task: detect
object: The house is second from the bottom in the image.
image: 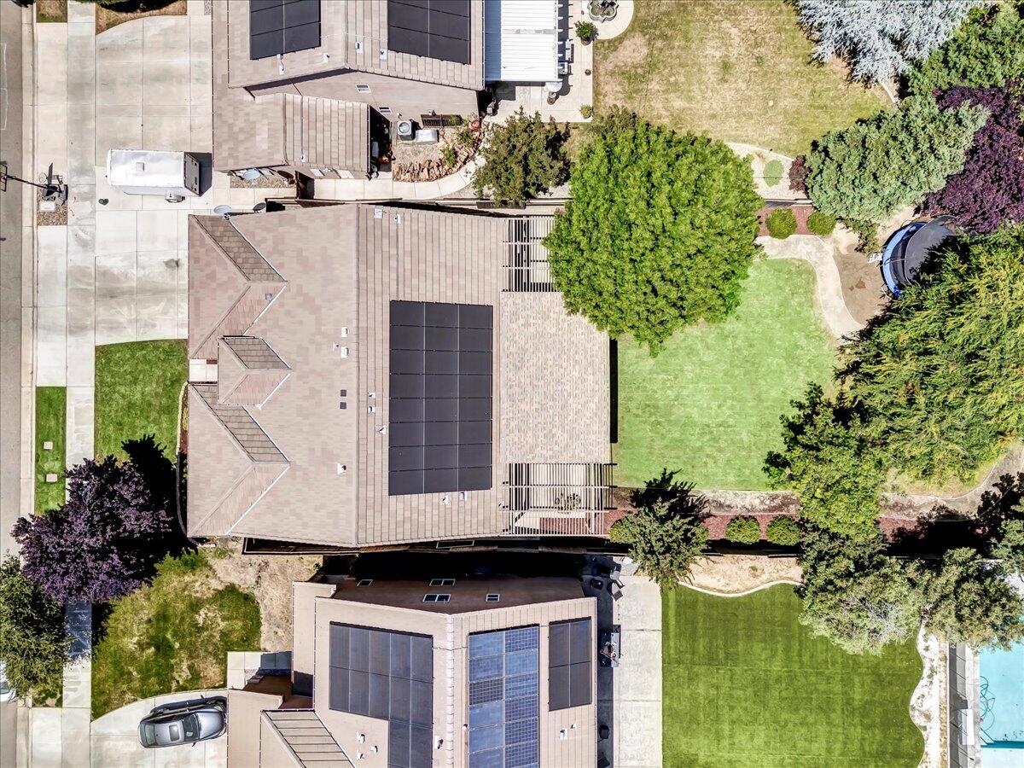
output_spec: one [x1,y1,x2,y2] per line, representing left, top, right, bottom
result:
[186,202,505,548]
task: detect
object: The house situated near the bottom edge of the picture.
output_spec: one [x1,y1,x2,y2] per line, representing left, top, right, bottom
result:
[226,576,598,768]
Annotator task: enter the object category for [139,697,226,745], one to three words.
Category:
car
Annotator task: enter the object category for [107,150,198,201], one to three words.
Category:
trailer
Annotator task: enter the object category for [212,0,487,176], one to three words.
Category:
house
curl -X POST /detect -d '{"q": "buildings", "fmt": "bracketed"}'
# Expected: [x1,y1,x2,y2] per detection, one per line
[186,202,505,548]
[226,576,598,768]
[212,0,487,176]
